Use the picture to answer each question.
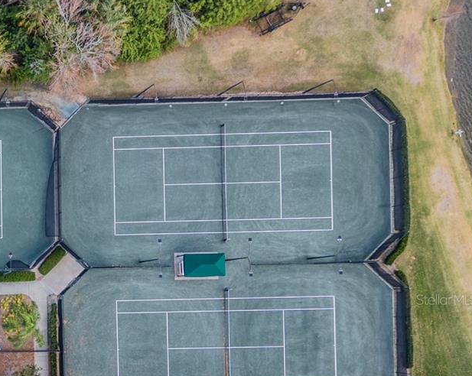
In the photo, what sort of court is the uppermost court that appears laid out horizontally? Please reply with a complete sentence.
I'd identify the uppermost court that appears laid out horizontally as a tennis court.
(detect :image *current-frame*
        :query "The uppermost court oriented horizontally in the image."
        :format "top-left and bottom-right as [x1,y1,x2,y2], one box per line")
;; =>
[60,97,393,267]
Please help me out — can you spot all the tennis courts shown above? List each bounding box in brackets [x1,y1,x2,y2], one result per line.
[60,260,398,376]
[0,106,57,270]
[60,97,393,267]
